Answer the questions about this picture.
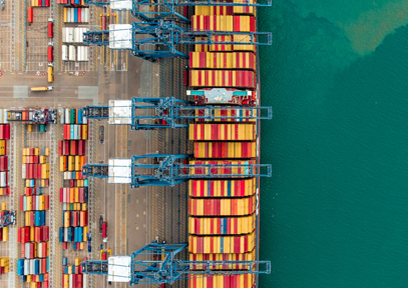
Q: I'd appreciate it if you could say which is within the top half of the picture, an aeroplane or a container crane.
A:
container crane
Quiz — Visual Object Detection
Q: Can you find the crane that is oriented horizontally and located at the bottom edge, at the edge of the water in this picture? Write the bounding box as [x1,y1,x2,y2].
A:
[79,232,271,286]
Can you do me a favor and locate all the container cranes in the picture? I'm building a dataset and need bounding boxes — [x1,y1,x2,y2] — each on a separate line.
[79,20,271,71]
[4,107,54,127]
[79,95,271,136]
[79,232,271,286]
[79,0,271,31]
[79,147,271,189]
